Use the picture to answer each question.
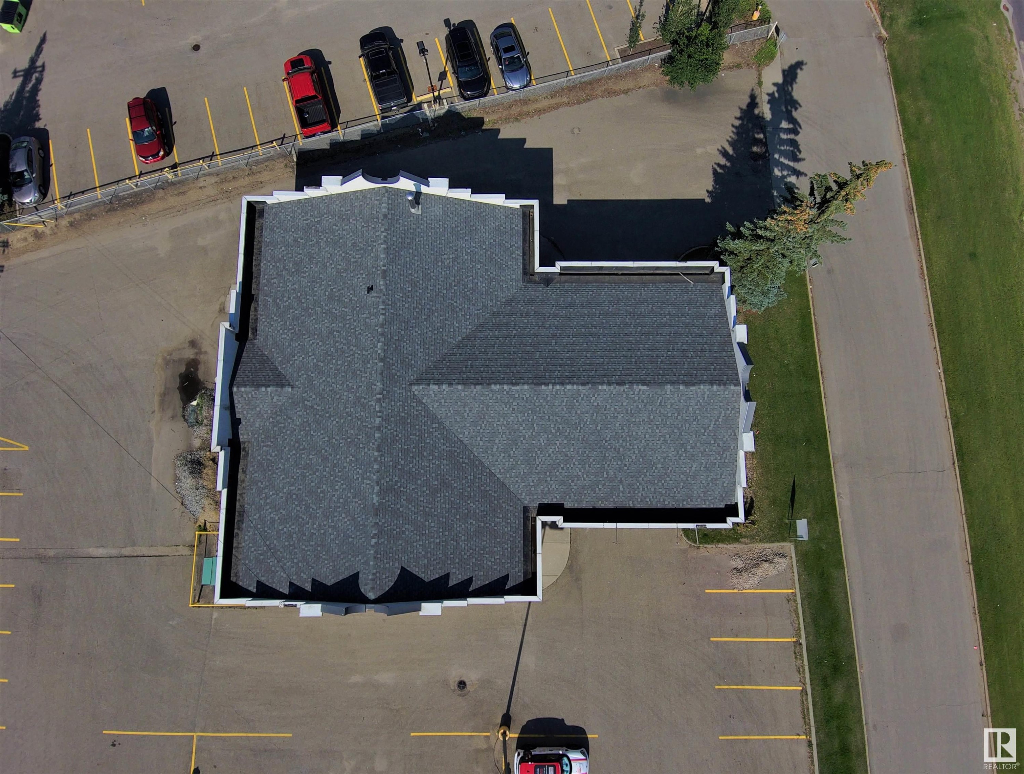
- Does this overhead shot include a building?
Yes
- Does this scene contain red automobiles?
Yes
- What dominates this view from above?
paved ground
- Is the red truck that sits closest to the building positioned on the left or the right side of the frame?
left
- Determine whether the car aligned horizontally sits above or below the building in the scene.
below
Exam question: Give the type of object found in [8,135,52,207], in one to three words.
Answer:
car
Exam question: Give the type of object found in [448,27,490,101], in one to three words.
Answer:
car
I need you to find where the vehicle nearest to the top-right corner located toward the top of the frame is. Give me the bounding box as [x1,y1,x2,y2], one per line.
[492,26,533,93]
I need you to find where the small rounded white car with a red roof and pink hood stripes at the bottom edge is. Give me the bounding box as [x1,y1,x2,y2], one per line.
[515,743,586,774]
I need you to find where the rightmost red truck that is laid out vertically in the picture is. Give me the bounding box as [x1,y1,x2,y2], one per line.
[276,54,327,140]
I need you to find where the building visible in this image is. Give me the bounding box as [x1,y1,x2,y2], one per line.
[213,168,758,620]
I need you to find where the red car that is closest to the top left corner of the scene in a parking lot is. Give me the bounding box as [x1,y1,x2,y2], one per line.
[124,97,166,166]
